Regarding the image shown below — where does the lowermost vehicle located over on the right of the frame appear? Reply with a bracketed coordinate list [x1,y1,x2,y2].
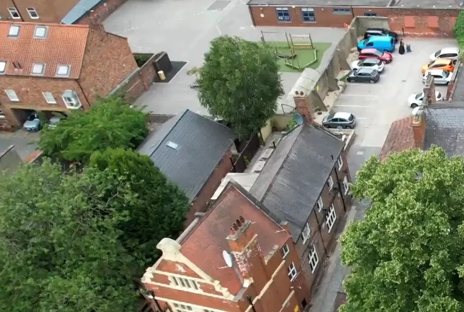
[321,107,361,129]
